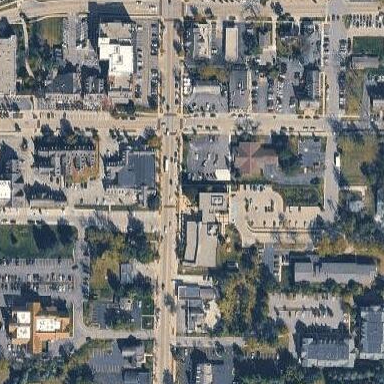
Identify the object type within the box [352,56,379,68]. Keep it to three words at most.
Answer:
building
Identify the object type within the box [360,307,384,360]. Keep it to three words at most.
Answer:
building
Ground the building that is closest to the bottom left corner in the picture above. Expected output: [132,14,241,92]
[8,301,69,354]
